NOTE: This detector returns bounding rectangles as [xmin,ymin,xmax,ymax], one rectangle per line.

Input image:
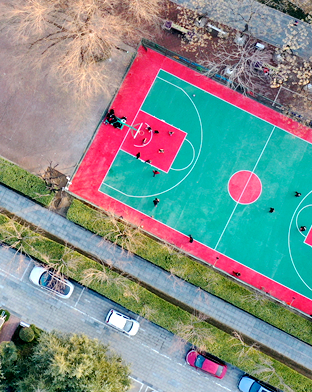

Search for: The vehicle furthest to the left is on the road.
[28,266,76,301]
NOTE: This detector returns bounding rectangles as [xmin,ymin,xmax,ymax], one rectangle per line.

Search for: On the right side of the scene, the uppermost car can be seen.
[183,346,230,380]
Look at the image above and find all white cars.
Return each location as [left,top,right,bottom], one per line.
[101,305,142,336]
[28,266,76,301]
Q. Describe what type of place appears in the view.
sports ground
